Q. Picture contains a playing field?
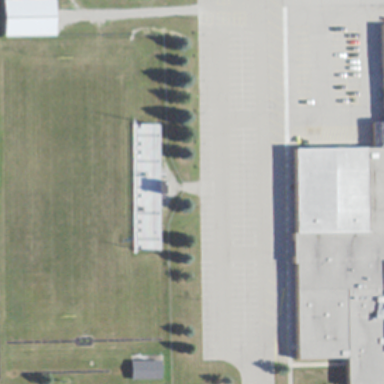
Yes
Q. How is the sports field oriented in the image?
vertically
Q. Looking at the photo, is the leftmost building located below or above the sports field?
above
